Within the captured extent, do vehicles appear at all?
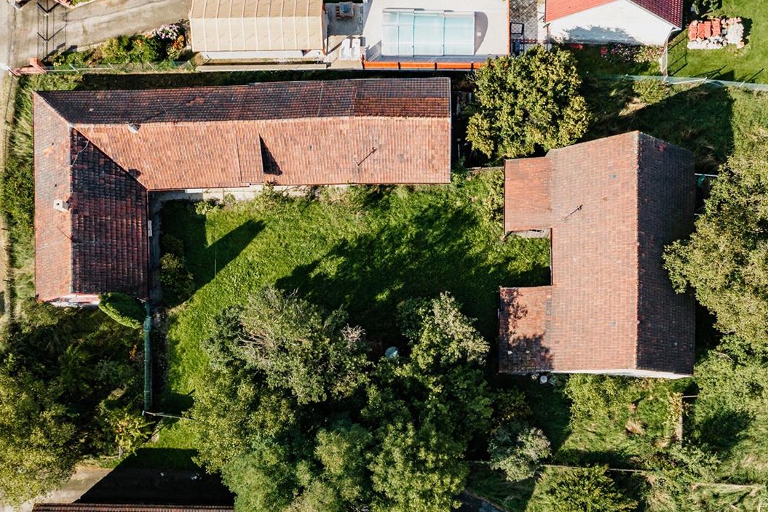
No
